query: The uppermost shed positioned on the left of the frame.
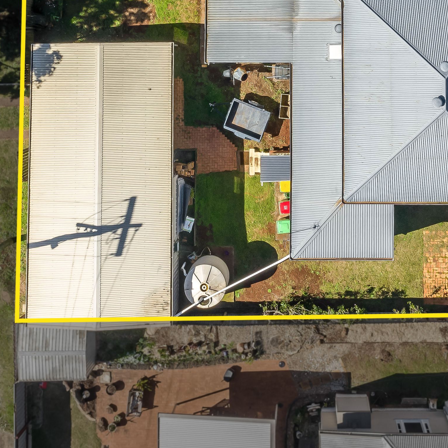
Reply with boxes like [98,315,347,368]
[23,42,179,329]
